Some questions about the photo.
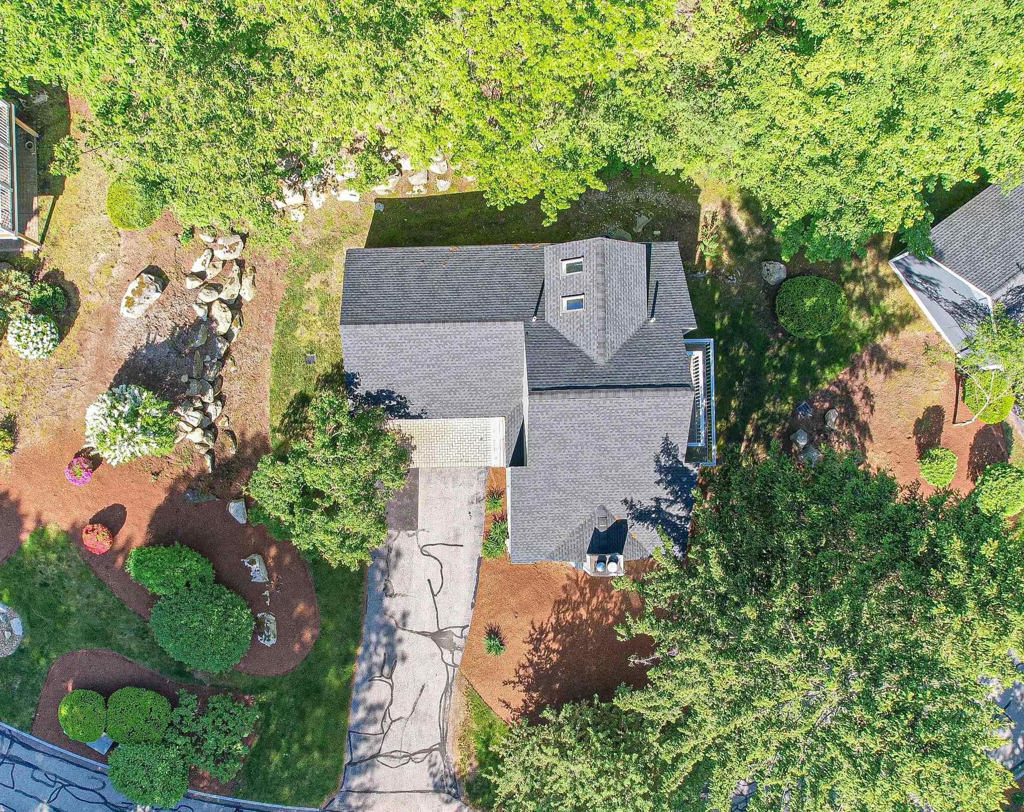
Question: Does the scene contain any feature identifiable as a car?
No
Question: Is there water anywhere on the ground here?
No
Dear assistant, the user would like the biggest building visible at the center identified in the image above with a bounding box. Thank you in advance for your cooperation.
[340,237,702,578]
